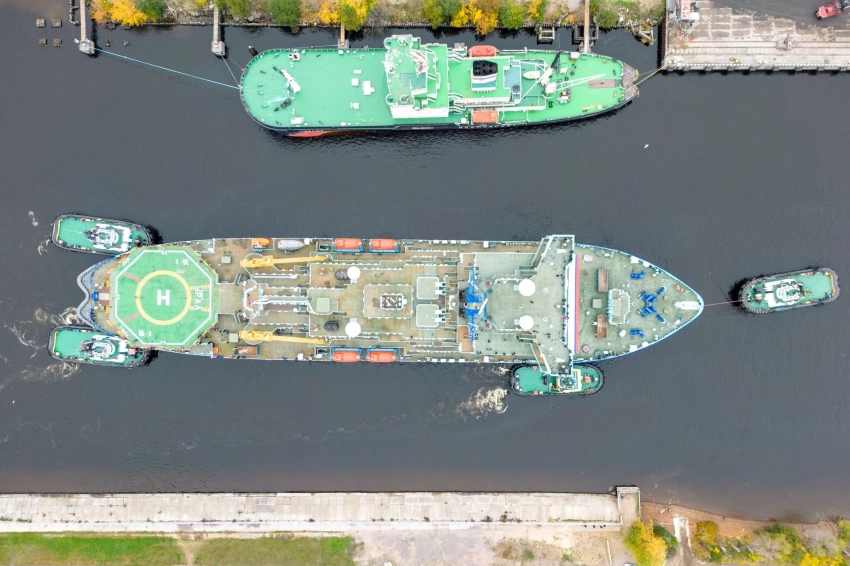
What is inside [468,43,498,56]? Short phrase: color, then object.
red boat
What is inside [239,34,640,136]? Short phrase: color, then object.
green ship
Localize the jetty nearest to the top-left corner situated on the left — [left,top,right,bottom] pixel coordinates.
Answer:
[75,0,100,59]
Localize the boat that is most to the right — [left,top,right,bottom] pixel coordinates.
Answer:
[743,267,846,311]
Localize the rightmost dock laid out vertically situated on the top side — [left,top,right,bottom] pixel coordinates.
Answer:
[574,0,596,52]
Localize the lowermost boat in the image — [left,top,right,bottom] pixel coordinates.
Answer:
[512,365,606,398]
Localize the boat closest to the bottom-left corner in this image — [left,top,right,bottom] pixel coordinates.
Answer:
[42,327,144,368]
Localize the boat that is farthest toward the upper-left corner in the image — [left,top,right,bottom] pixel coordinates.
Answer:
[46,212,149,253]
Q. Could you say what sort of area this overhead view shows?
port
